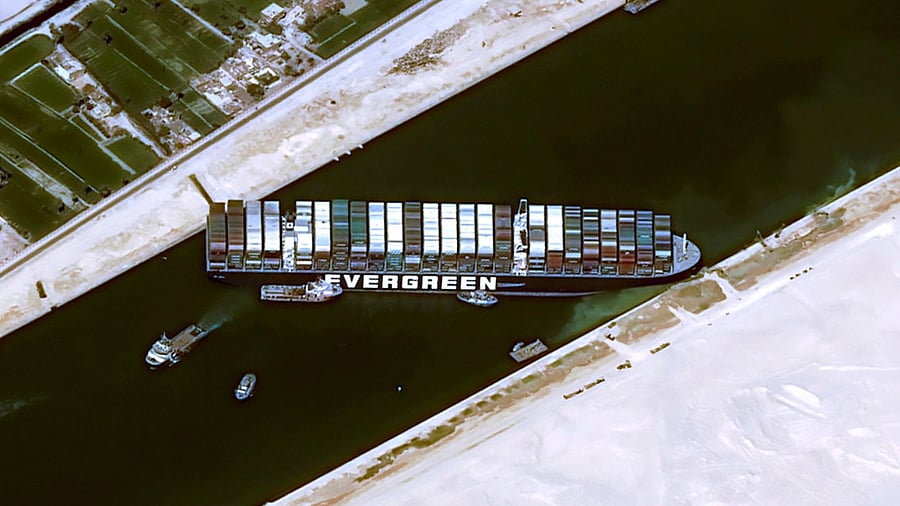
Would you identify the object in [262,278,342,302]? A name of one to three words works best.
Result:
ship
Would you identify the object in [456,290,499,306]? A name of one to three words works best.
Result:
boat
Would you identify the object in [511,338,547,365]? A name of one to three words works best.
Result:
ship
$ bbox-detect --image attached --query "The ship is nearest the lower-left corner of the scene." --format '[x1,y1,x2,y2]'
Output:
[147,323,206,365]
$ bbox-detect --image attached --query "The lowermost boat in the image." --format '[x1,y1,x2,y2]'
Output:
[236,372,258,400]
